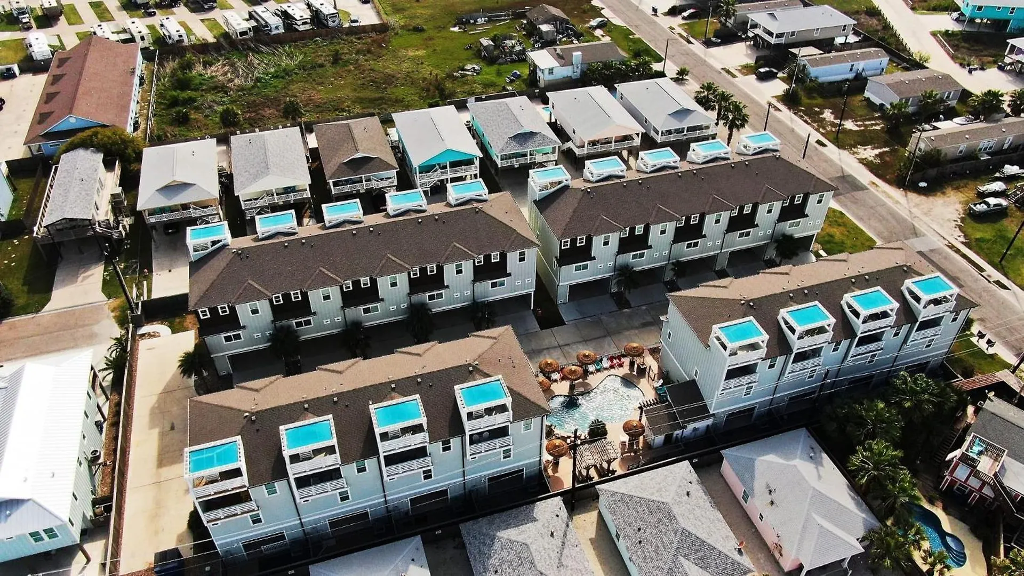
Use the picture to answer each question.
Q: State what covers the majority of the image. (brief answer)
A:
buildings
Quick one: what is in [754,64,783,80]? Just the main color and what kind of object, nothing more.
black car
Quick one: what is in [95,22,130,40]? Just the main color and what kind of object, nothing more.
white camper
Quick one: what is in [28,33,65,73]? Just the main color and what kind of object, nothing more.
white camper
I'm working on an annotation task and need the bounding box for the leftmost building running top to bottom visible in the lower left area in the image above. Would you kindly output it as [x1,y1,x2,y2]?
[0,349,105,576]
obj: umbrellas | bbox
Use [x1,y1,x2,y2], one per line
[622,346,645,368]
[538,379,555,397]
[548,441,569,467]
[575,353,598,376]
[537,361,560,381]
[560,367,583,391]
[621,422,645,448]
